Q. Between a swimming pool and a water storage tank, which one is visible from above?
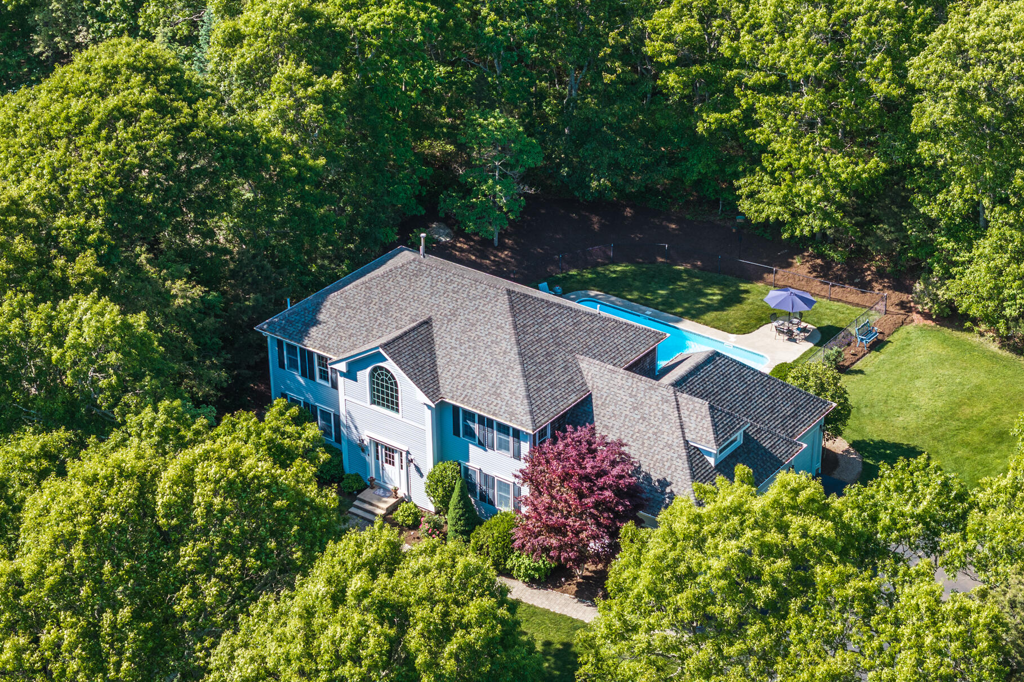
swimming pool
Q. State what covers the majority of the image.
trees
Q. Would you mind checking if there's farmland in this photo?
No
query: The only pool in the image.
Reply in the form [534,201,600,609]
[565,296,766,369]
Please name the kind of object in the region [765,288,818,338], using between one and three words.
umbrella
